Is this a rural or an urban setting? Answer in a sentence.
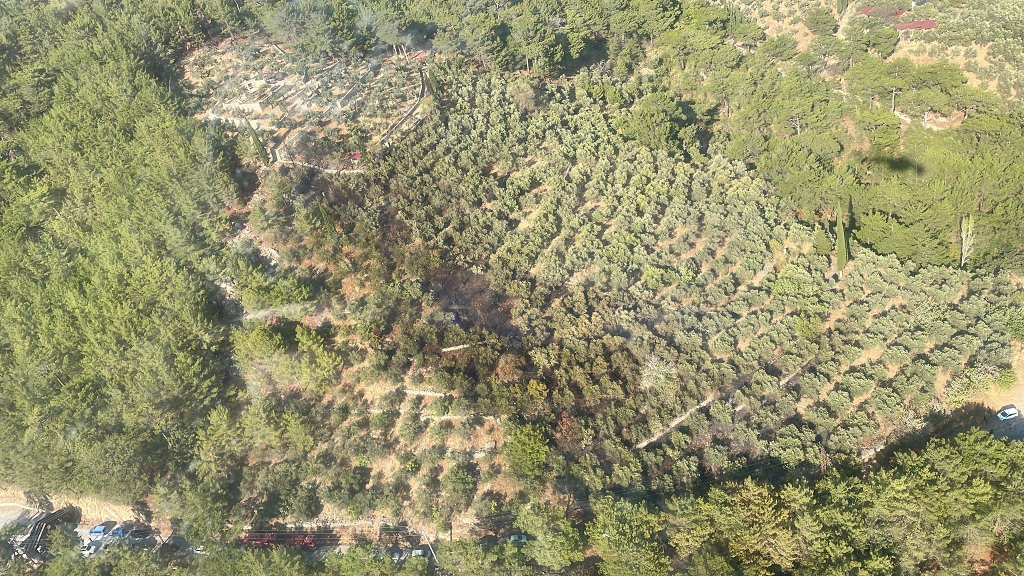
This place is rural.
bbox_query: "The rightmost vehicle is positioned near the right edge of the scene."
[995,407,1021,422]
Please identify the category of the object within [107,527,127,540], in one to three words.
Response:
vehicle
